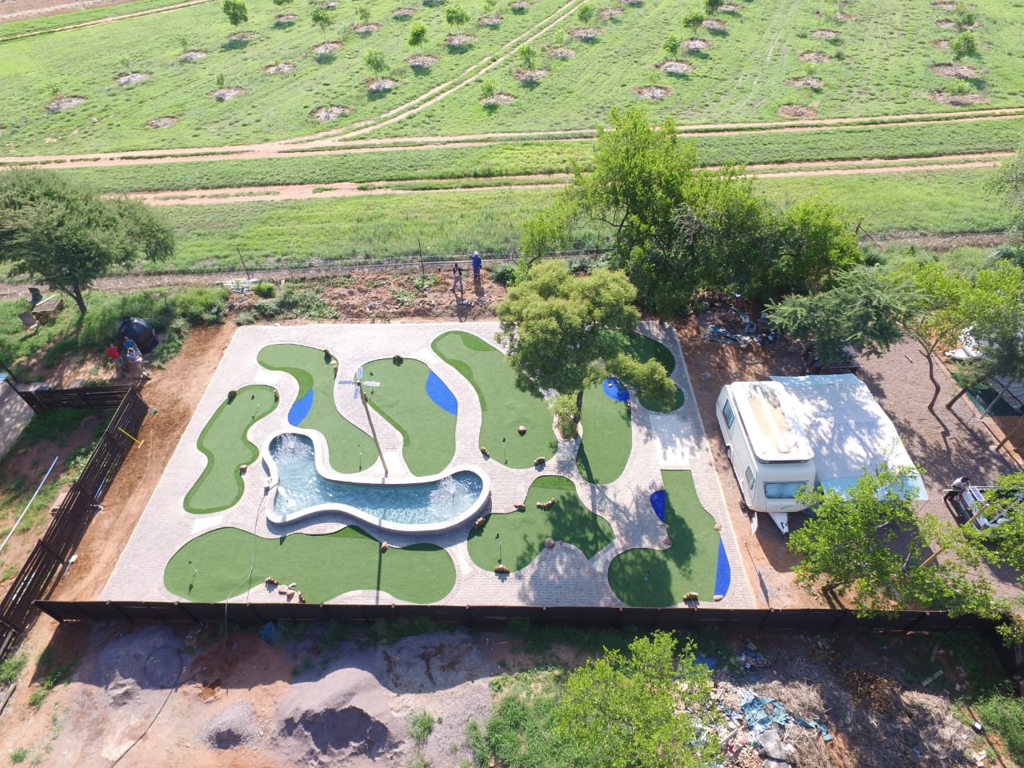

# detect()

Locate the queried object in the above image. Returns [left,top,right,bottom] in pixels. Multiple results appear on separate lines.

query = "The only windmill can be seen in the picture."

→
[336,369,387,476]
